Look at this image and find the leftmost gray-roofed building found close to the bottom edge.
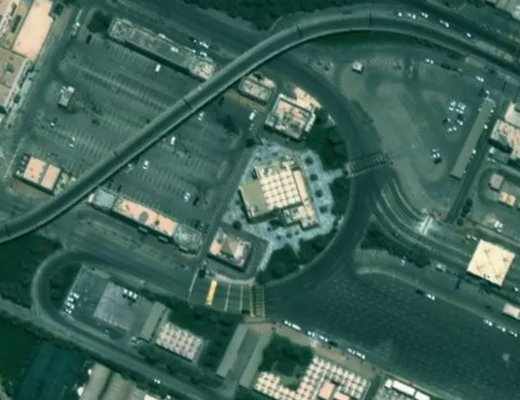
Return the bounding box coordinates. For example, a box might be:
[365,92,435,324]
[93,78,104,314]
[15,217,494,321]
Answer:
[79,363,111,400]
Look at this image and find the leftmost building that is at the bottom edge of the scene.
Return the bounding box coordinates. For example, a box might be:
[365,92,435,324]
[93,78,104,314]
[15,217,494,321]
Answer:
[19,343,81,400]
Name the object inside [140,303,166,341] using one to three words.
shed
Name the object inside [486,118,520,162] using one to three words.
house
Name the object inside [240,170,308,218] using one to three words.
building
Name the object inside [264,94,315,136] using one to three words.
house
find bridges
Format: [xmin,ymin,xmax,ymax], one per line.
[0,13,520,242]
